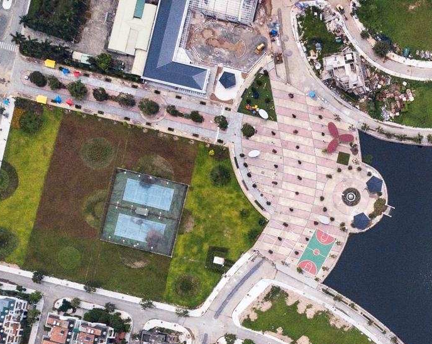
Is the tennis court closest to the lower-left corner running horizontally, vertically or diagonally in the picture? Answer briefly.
horizontally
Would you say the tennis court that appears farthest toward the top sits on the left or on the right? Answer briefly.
left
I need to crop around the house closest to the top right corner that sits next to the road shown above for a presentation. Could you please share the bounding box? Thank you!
[323,51,366,98]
